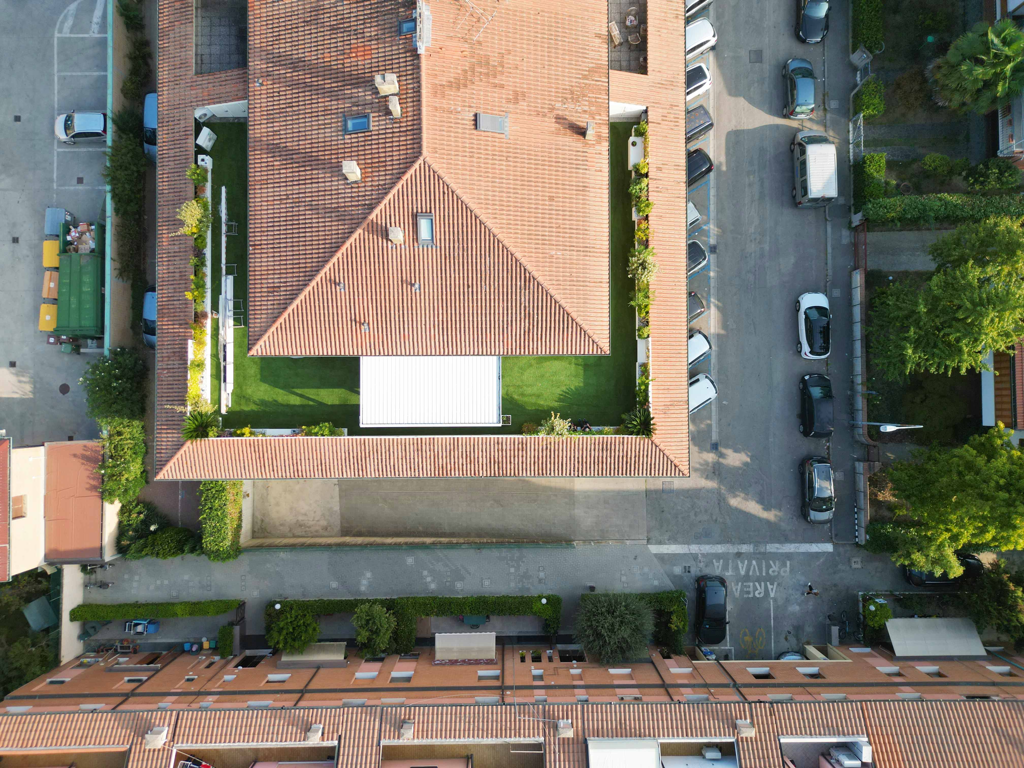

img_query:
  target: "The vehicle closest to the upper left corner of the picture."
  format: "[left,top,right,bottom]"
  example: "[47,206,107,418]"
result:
[52,109,105,144]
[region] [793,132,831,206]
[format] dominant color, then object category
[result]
white vehicle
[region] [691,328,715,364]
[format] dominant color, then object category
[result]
white car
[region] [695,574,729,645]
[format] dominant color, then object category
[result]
black car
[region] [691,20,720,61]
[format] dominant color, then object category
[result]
white car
